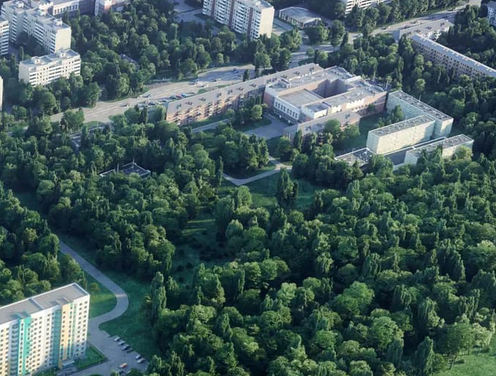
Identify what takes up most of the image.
trees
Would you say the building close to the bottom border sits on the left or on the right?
left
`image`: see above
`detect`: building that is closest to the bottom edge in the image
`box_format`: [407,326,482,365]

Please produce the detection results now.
[0,281,90,376]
